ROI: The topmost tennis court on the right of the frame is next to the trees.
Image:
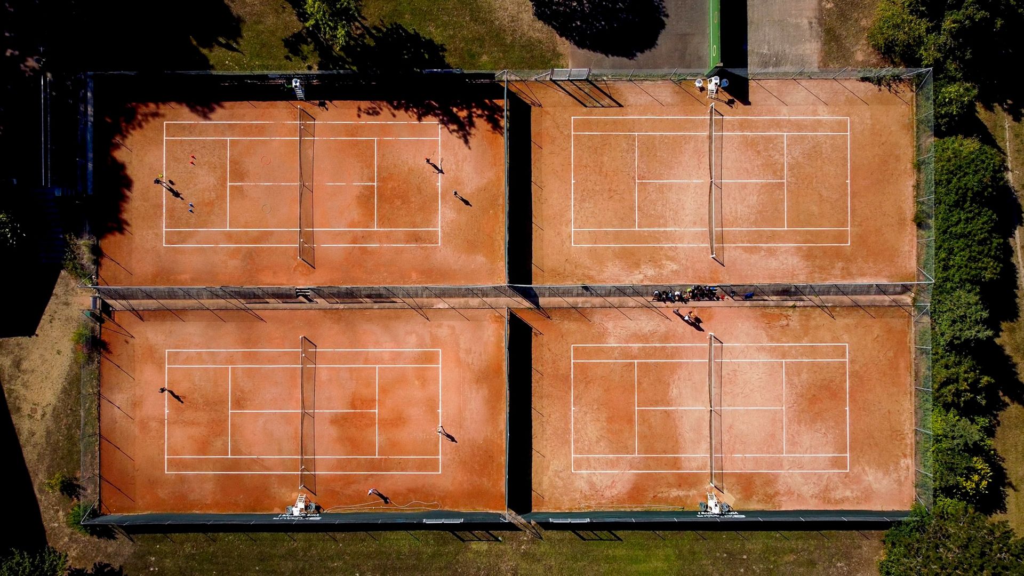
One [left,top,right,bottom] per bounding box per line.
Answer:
[509,79,915,286]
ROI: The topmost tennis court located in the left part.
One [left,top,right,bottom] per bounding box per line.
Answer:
[96,80,508,289]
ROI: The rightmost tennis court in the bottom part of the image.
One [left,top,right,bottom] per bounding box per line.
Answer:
[508,306,912,512]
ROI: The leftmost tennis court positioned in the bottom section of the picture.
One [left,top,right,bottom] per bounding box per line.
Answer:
[97,308,508,514]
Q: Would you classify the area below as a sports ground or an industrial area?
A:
sports ground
